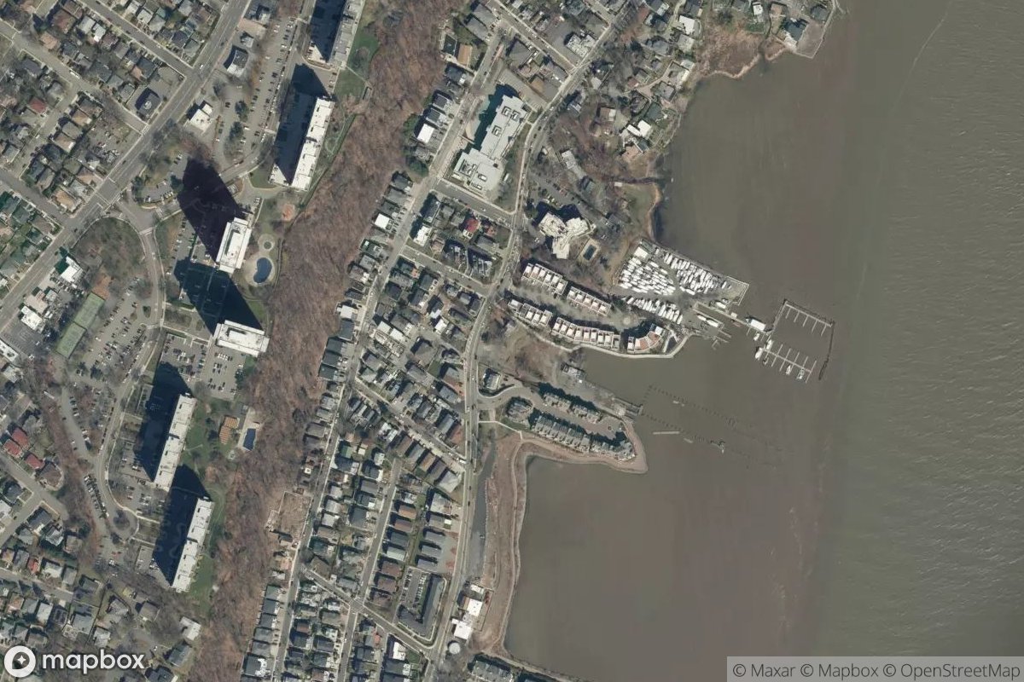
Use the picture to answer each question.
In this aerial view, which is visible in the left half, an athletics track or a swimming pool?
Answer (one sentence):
Visible in the left half is a swimming pool.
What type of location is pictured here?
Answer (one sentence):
This looks like a residential area.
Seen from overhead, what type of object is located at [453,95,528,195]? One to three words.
building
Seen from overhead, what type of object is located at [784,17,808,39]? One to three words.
house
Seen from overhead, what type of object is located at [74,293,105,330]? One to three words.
sports court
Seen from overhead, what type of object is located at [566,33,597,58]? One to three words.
building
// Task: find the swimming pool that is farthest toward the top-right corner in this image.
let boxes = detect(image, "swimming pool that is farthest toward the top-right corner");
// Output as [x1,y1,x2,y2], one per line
[578,240,600,265]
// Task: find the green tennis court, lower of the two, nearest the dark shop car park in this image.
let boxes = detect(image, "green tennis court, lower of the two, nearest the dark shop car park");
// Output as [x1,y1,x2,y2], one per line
[57,323,85,357]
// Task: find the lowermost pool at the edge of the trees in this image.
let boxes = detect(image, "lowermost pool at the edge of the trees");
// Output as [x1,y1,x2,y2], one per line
[237,408,263,452]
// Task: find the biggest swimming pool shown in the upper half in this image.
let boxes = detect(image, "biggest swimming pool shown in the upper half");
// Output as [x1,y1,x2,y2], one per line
[245,251,275,286]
